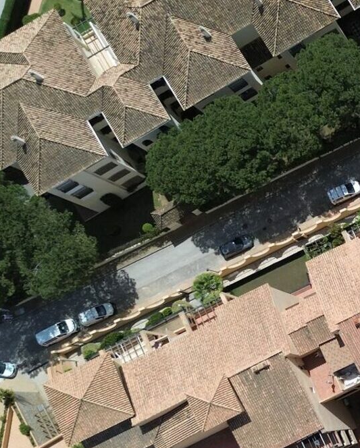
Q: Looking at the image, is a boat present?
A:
No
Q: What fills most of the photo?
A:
buildings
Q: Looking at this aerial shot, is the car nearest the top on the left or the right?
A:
right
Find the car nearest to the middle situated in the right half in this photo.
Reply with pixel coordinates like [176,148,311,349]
[217,234,255,259]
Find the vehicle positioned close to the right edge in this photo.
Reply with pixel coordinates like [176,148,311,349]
[325,180,360,204]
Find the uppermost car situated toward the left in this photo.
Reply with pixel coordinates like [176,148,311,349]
[78,303,116,326]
